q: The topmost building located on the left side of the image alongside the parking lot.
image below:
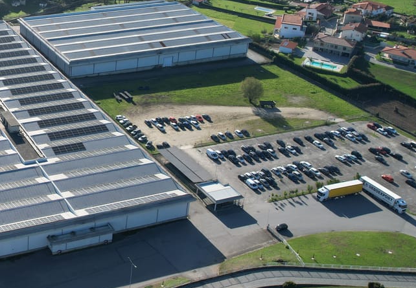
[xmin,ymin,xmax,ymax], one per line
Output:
[18,0,252,81]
